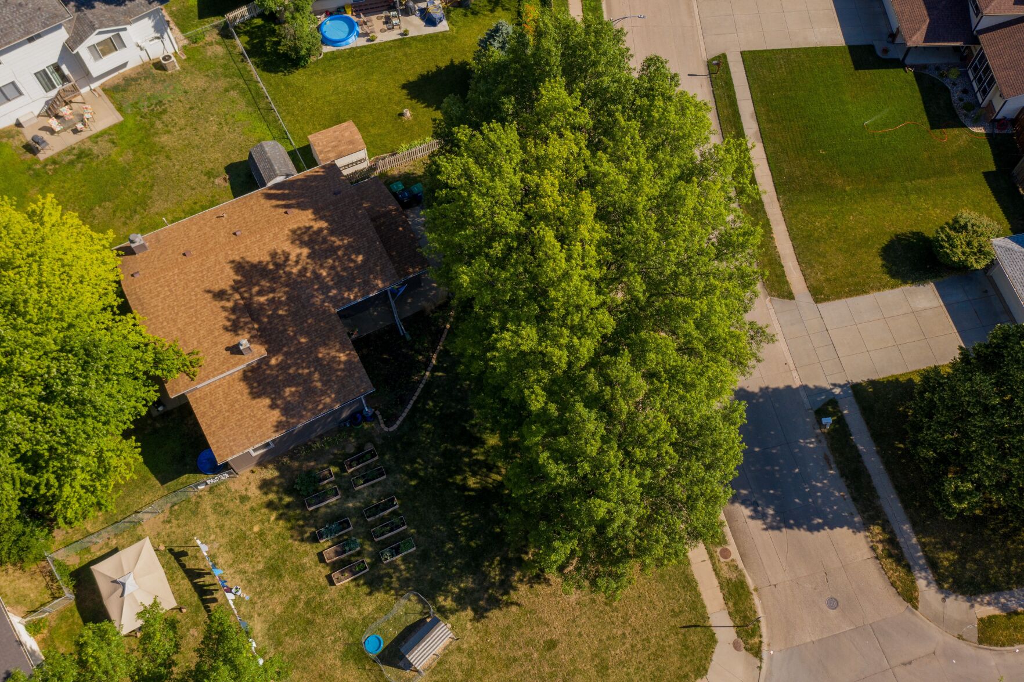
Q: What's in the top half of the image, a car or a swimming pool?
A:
swimming pool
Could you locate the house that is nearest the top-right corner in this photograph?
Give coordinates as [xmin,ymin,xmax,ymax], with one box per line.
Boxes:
[880,0,1024,119]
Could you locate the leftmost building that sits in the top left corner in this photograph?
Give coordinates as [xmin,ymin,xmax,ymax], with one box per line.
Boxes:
[0,0,175,127]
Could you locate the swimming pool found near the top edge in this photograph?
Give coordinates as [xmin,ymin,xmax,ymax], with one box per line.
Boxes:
[320,15,358,46]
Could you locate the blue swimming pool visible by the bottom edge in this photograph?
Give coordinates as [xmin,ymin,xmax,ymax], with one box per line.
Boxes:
[362,633,383,655]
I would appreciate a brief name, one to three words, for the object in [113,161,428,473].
house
